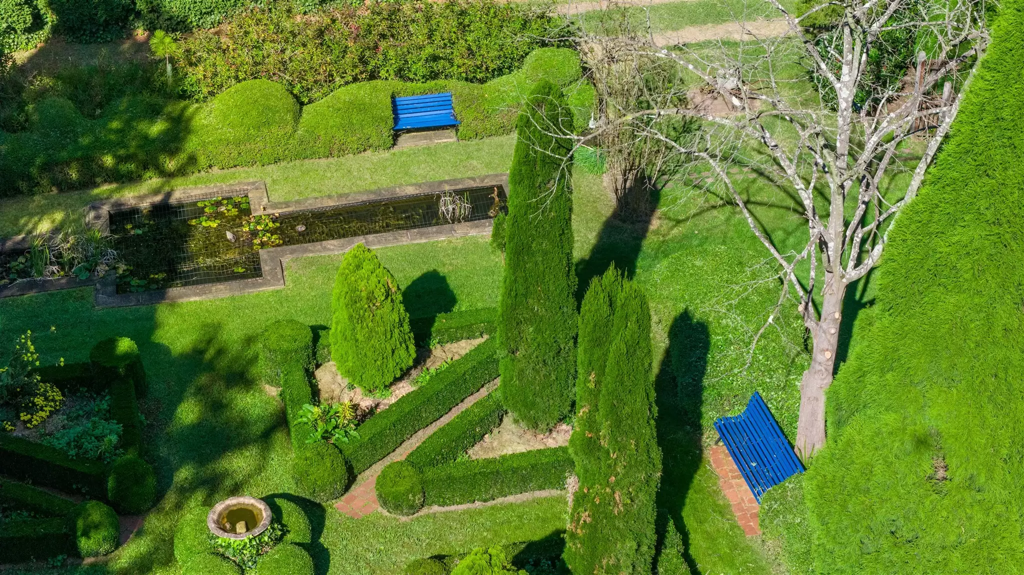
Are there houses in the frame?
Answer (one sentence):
No, the scene contains no house.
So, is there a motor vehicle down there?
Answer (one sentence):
No, there appears to be no motor vehicle in this shot.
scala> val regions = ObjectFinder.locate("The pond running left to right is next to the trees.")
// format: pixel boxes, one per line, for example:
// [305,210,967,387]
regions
[0,171,512,310]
